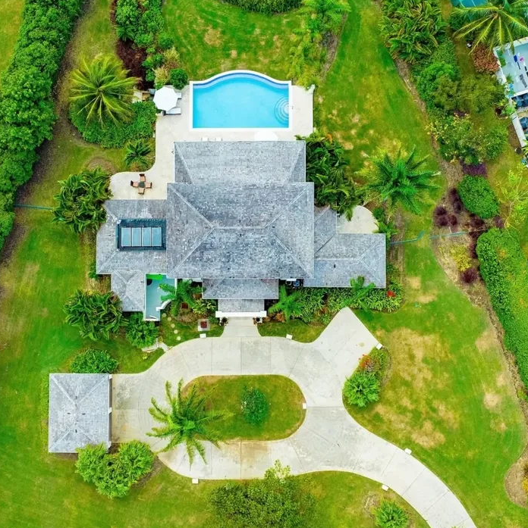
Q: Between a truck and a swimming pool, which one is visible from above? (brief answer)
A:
swimming pool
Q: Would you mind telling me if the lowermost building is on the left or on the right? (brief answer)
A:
left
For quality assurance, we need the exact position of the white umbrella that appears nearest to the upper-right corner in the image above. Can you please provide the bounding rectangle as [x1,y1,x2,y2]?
[255,125,276,140]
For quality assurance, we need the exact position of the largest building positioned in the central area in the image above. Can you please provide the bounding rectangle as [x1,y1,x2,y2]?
[95,140,387,319]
